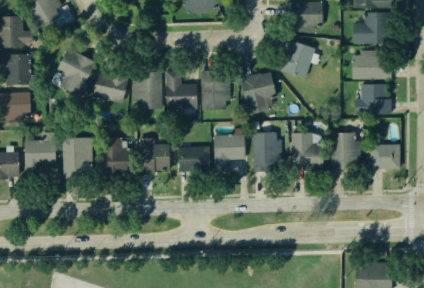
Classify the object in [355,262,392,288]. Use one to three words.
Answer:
house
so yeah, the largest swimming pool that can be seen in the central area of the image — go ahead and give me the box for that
[214,122,236,134]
